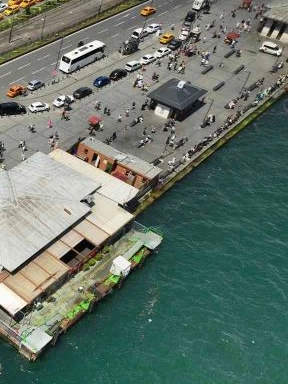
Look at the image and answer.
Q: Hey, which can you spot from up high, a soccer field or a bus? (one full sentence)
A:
Of the two, only a bus appears.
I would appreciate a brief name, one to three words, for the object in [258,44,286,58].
vehicle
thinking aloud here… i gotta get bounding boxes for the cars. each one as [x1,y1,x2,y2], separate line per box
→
[20,0,37,9]
[139,7,158,17]
[140,54,159,66]
[183,10,197,22]
[3,5,20,16]
[69,84,94,101]
[27,101,53,114]
[146,23,164,34]
[24,80,47,92]
[165,39,184,51]
[130,27,149,40]
[108,67,130,83]
[180,20,194,31]
[91,74,113,89]
[177,30,191,42]
[8,0,24,6]
[123,59,145,73]
[152,47,173,59]
[258,44,286,58]
[158,34,176,45]
[51,95,76,109]
[0,4,9,13]
[4,85,29,98]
